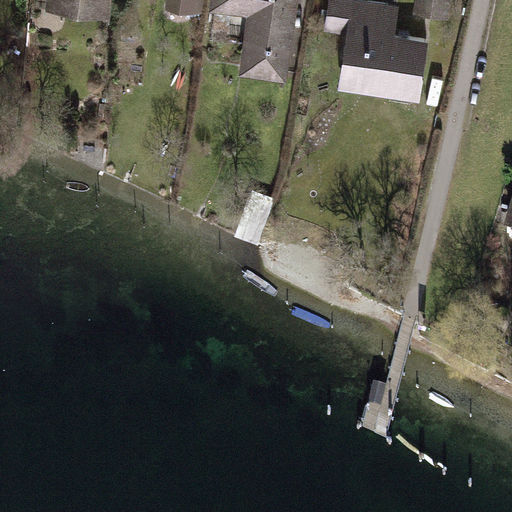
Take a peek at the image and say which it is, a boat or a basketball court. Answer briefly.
boat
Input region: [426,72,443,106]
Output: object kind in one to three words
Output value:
camper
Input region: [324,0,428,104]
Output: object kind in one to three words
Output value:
house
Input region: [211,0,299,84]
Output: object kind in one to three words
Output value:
house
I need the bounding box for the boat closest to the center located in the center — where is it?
[242,264,280,296]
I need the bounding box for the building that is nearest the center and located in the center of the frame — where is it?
[234,188,273,244]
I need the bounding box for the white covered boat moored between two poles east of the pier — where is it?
[428,390,454,406]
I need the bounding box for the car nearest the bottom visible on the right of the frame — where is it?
[499,188,512,210]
